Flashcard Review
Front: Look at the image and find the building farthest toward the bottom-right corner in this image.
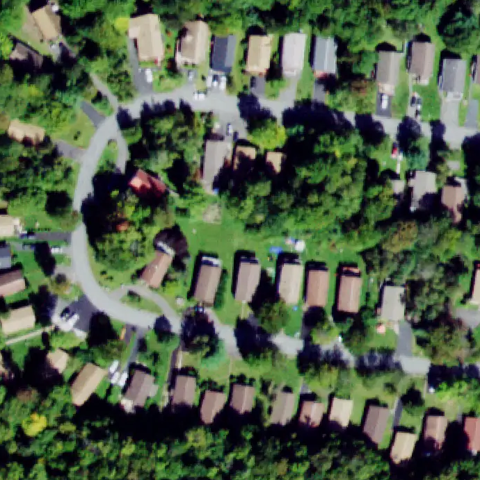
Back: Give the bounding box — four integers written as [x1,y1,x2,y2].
[464,417,480,456]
